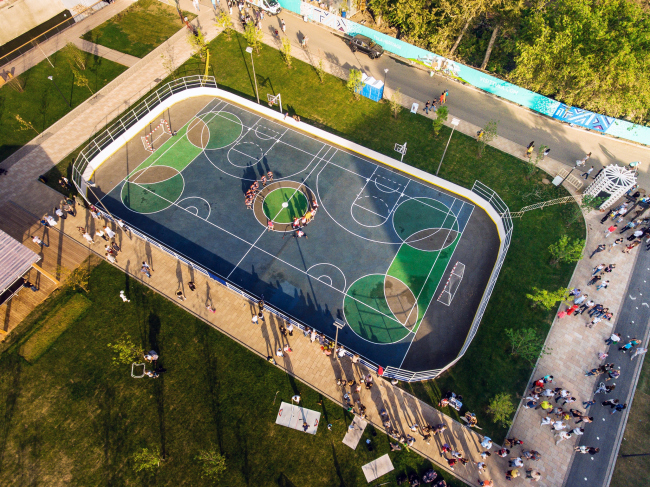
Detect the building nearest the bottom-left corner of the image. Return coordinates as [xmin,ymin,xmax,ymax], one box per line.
[0,227,58,323]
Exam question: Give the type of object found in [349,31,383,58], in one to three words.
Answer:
car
